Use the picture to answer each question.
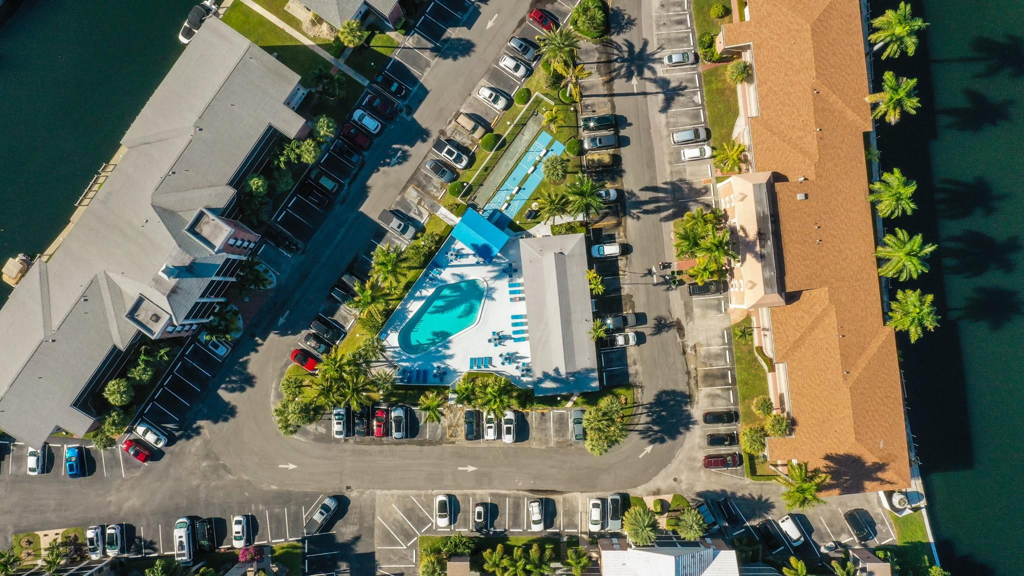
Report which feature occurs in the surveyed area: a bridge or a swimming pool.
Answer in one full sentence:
There is a swimming pool in the scene.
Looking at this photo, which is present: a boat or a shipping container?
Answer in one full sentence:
Visible in the photo is a boat.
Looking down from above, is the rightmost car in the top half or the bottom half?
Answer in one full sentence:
The rightmost car is in the bottom half of the image.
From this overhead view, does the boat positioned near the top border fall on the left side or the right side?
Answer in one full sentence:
The boat positioned near the top border appears in the left half of the scene.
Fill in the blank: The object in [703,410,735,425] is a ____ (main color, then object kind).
black car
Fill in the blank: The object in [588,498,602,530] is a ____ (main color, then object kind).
white car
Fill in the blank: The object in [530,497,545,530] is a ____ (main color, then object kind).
white car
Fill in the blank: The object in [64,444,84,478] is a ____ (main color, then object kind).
blue car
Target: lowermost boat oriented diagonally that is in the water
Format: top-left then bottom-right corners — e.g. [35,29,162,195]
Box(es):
[0,253,31,287]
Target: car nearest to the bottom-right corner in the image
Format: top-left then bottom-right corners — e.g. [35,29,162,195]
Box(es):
[845,508,869,542]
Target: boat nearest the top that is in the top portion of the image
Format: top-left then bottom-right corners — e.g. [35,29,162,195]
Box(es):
[182,0,219,46]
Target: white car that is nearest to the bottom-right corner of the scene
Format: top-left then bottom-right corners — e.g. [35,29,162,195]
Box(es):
[775,511,803,547]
